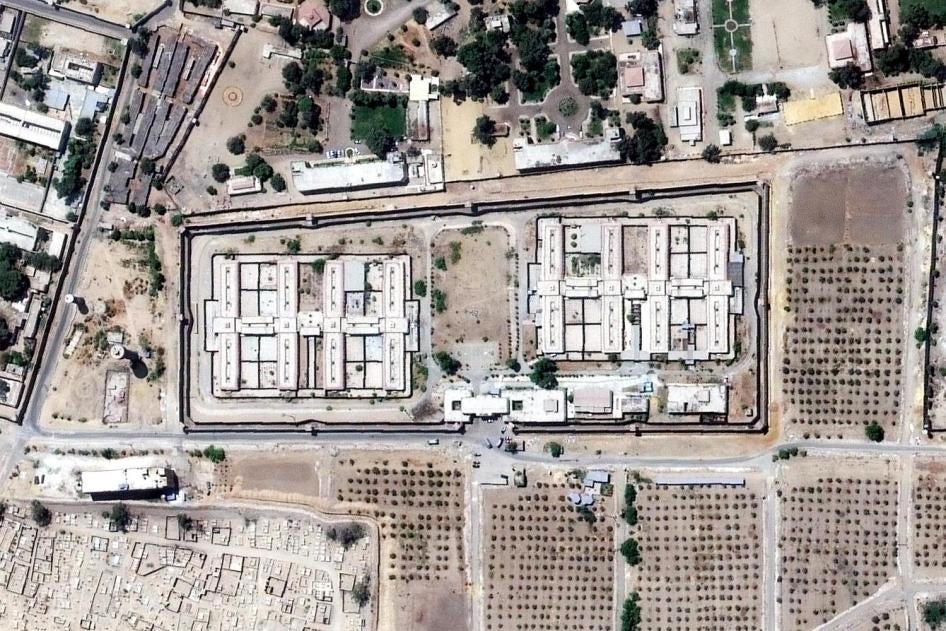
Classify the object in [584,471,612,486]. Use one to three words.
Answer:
building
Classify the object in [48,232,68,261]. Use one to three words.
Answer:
house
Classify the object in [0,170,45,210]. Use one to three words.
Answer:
shed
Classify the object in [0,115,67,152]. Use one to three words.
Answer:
building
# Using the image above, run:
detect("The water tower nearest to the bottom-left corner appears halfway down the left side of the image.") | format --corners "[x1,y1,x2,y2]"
[112,345,140,360]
